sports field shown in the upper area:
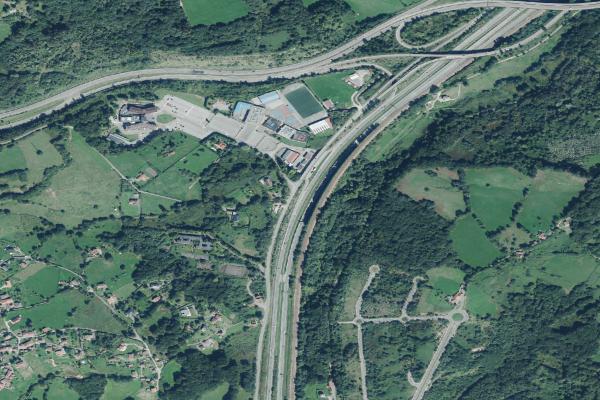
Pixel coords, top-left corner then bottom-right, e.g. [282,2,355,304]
[281,81,328,124]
